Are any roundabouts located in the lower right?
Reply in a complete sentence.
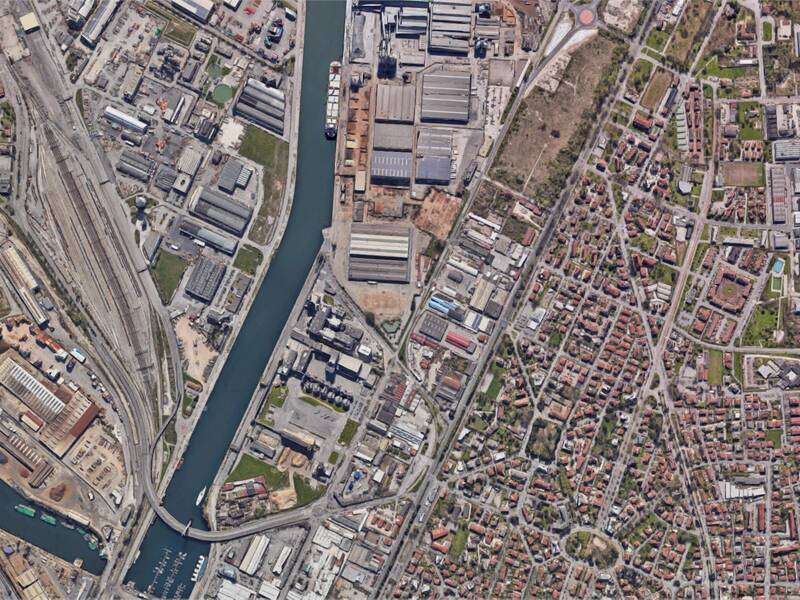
Yes, a roundabout is visible in the lower right.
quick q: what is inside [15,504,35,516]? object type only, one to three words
ship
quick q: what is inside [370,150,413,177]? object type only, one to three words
building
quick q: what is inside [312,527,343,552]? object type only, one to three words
building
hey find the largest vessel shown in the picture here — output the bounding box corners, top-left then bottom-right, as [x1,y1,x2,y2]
[324,61,341,138]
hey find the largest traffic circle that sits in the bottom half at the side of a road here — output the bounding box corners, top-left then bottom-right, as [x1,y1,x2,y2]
[561,526,623,573]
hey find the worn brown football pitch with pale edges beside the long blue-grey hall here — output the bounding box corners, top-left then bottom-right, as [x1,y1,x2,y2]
[641,66,673,109]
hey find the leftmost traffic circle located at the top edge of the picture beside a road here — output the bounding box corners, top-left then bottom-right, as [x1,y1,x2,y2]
[560,0,635,51]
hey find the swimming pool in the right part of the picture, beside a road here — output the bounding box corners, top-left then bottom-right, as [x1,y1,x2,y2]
[772,257,786,277]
